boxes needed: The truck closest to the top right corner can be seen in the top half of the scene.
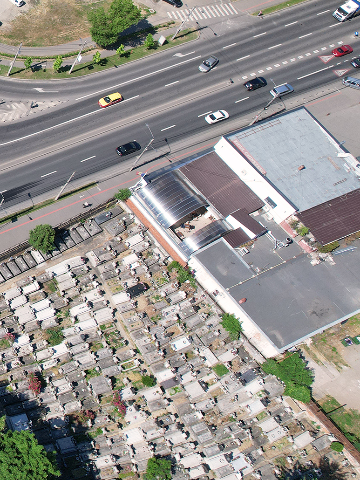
[334,1,360,26]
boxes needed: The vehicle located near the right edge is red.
[330,44,355,58]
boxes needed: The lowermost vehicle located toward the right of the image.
[203,110,230,124]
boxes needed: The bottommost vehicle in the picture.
[114,140,142,156]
